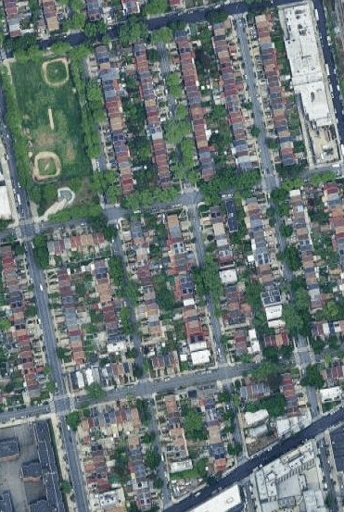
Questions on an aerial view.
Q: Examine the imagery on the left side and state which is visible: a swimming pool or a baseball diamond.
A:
baseball diamond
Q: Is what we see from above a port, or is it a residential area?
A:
residential area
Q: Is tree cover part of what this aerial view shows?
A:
Yes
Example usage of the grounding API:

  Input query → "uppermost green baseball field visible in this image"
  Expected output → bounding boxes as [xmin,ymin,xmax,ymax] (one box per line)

[12,54,78,110]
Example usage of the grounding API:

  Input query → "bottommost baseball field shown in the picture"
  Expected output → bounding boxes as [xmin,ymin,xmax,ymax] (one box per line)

[23,101,89,183]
